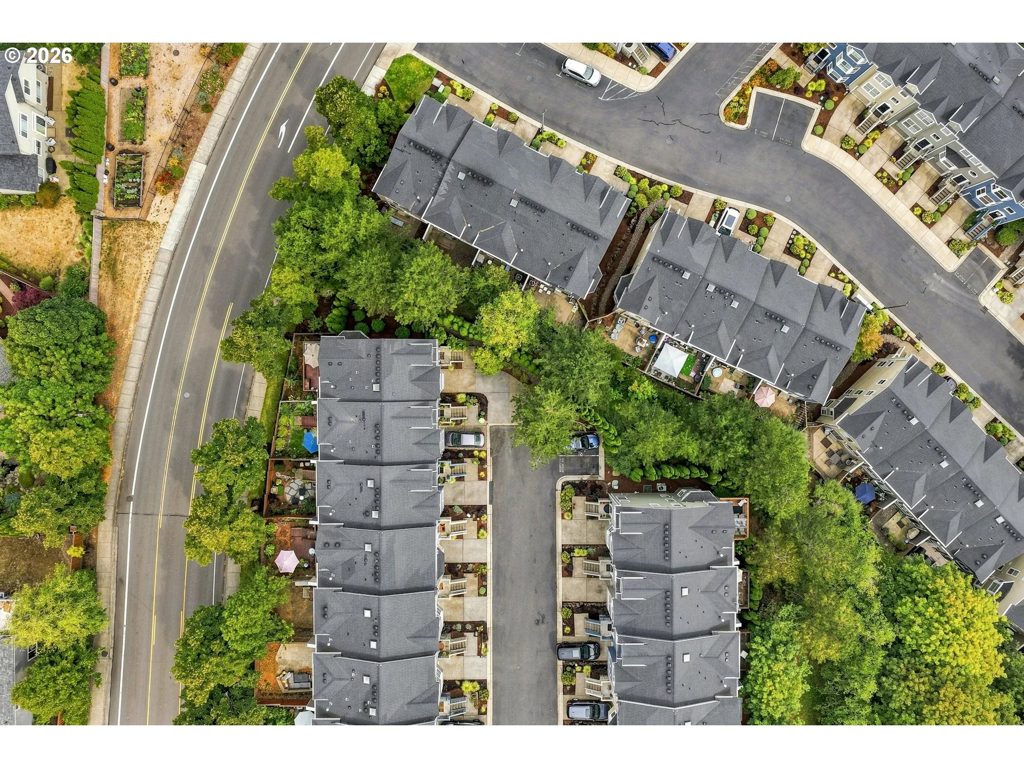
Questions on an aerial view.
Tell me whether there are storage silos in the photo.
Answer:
No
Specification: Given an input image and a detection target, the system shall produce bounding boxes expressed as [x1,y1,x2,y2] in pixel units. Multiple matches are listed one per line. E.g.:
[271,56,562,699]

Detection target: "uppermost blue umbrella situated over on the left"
[301,430,320,455]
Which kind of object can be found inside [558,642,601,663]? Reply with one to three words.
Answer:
car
